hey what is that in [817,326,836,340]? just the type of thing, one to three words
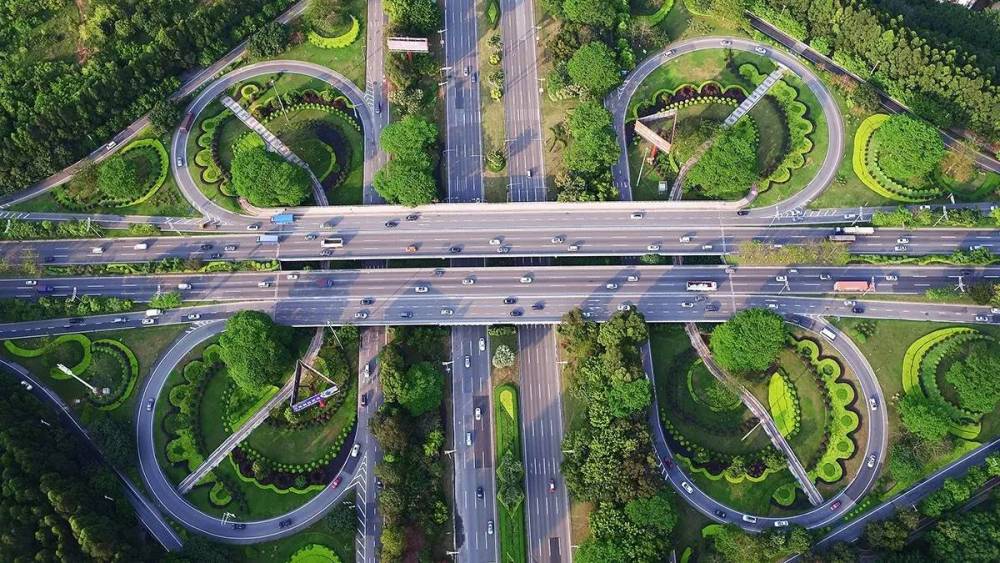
vehicle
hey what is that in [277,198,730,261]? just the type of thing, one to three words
overpass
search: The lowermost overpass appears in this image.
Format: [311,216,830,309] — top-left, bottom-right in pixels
[273,266,738,326]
